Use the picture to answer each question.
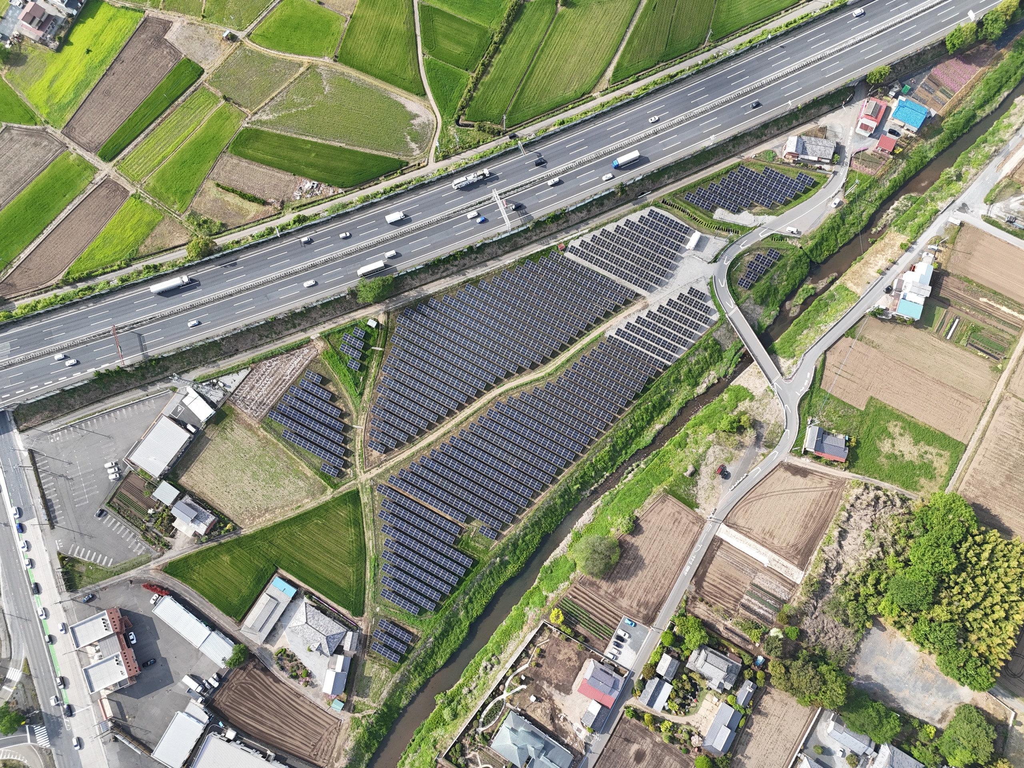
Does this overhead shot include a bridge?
Yes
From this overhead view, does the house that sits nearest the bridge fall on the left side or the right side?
right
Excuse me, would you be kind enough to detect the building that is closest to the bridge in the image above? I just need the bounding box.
[802,425,849,462]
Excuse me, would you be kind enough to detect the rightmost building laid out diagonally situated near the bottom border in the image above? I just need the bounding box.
[825,713,877,757]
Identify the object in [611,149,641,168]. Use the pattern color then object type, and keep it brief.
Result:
white vehicle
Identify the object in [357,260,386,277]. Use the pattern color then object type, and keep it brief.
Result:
white vehicle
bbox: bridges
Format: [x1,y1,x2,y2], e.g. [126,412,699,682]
[728,312,777,376]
